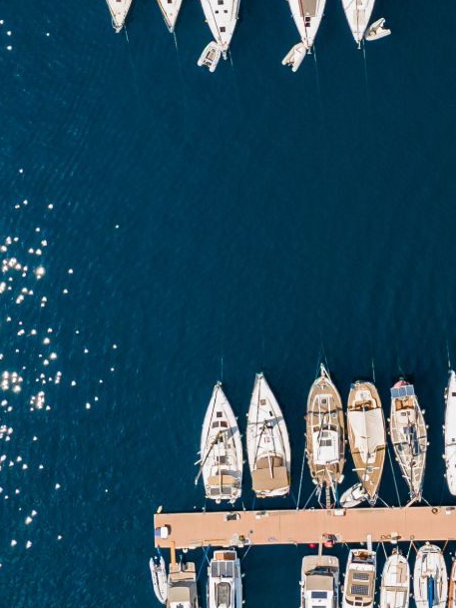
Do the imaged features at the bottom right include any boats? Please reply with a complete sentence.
Yes, I can see a boat at the bottom right.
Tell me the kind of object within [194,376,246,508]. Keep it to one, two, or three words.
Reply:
boat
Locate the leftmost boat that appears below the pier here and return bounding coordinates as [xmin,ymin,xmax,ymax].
[148,558,167,604]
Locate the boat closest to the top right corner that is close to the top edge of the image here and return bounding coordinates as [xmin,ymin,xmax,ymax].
[365,20,392,42]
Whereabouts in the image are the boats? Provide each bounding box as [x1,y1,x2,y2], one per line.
[202,0,240,59]
[339,0,375,53]
[199,41,221,72]
[440,366,456,505]
[377,540,413,608]
[340,535,379,608]
[286,0,325,57]
[386,370,432,509]
[297,360,348,515]
[245,367,297,508]
[411,541,449,608]
[203,546,251,608]
[194,376,246,508]
[365,20,392,42]
[148,558,167,604]
[297,534,344,608]
[344,369,399,510]
[339,483,368,509]
[158,540,210,608]
[283,43,305,72]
